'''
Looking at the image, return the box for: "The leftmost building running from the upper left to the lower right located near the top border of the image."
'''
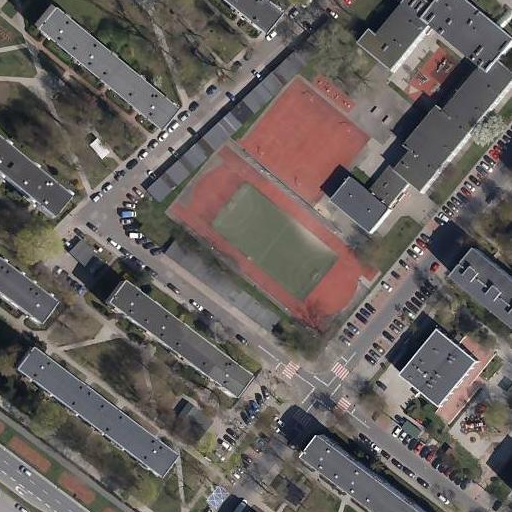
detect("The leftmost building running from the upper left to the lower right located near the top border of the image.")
[40,7,180,133]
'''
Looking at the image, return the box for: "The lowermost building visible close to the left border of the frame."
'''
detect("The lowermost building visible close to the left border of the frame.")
[18,348,179,479]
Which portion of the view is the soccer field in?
center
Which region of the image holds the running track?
center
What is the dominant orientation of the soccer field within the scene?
at an angle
